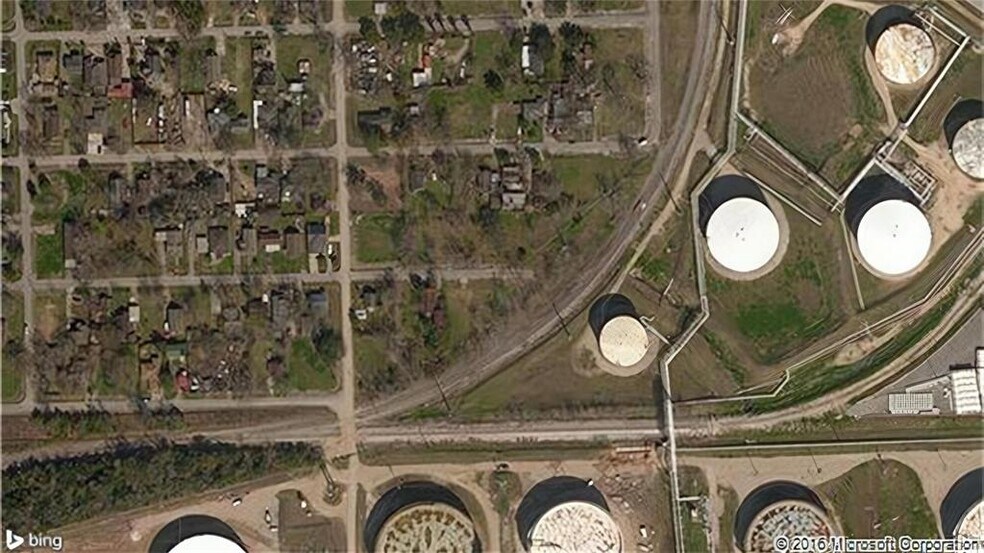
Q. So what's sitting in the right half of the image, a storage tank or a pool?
storage tank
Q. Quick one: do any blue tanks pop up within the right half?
No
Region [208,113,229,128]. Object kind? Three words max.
house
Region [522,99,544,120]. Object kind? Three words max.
house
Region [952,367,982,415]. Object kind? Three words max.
building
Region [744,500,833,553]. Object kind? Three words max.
storage tank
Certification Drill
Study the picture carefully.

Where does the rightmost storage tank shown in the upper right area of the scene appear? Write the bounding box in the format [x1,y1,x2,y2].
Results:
[951,117,984,181]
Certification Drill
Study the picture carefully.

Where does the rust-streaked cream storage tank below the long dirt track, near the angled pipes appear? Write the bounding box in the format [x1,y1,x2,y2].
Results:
[874,22,937,84]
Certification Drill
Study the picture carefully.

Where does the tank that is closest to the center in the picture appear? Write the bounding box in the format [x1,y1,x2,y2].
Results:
[599,314,650,366]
